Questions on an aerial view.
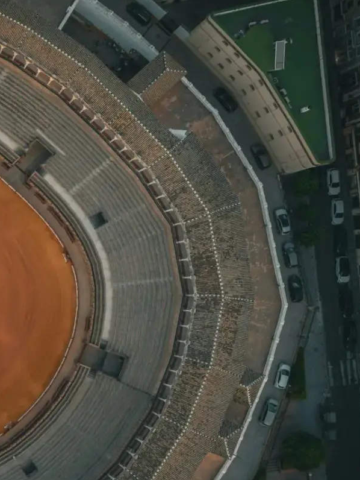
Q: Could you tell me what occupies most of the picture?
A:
buildings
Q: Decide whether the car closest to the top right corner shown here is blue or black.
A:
black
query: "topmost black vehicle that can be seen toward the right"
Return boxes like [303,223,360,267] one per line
[213,86,237,113]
